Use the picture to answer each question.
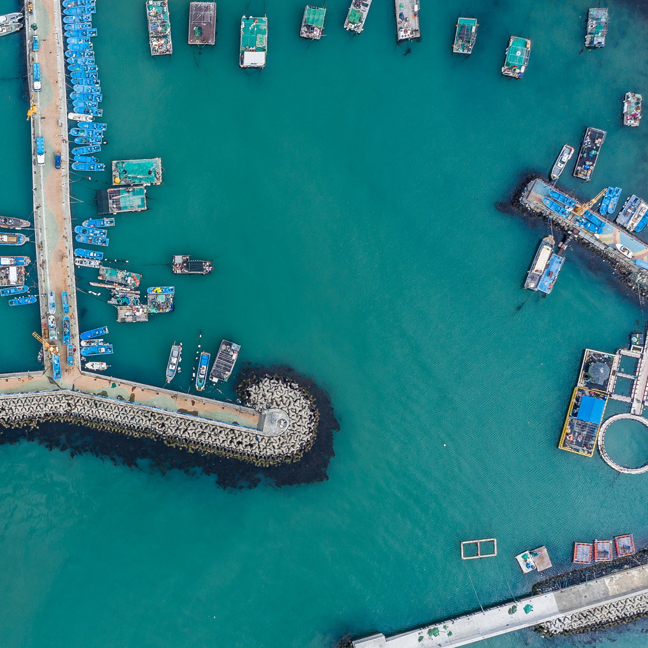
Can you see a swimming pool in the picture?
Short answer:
No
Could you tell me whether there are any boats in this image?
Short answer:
Yes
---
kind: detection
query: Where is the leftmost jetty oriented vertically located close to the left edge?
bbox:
[25,0,80,395]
